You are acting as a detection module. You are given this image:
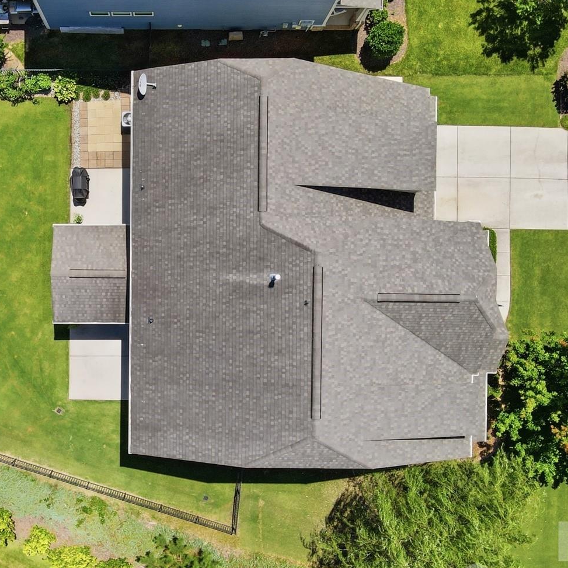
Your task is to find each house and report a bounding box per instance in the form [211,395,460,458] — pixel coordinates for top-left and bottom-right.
[51,56,510,470]
[25,0,384,38]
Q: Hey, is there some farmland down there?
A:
No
